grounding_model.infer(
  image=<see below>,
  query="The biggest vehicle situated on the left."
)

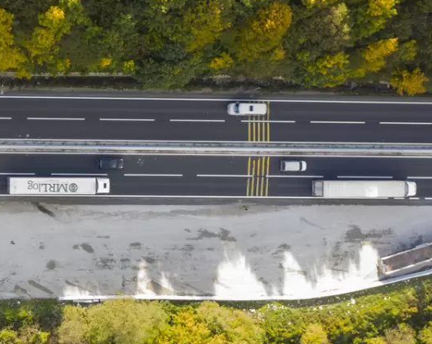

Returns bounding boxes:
[6,175,107,195]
